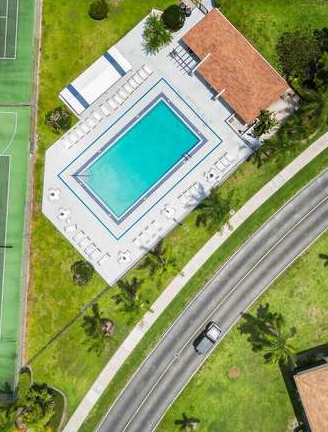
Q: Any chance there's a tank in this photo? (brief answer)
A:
No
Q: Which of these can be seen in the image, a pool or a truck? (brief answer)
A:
pool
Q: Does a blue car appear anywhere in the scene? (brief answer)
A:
No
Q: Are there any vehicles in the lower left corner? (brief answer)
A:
No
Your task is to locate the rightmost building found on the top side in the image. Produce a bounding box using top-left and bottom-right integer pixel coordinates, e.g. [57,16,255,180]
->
[183,7,290,124]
